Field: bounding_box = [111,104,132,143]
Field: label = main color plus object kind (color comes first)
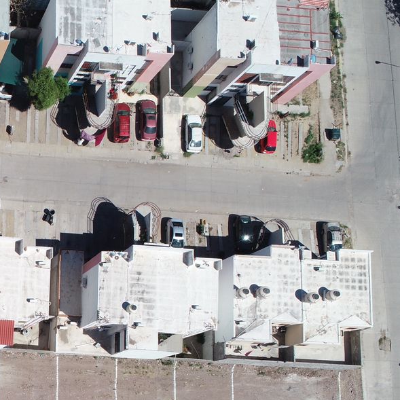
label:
red car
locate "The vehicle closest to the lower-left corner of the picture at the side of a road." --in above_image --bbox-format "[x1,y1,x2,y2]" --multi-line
[167,213,187,249]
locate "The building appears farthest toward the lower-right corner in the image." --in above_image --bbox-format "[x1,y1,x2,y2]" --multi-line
[201,213,376,352]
